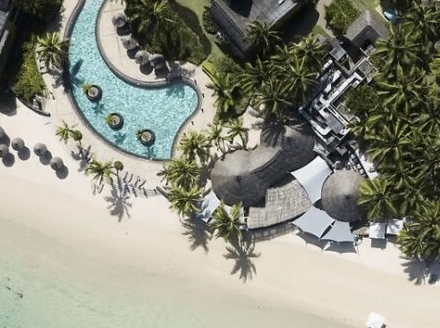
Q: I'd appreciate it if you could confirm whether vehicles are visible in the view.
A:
No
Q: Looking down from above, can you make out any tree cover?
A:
Yes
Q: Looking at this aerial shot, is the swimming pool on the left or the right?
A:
left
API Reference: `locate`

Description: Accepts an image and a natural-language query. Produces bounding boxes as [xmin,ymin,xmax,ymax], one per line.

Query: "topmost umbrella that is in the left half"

[113,15,126,28]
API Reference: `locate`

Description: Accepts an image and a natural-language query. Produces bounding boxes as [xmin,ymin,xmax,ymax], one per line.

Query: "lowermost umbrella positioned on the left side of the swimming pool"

[51,157,64,171]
